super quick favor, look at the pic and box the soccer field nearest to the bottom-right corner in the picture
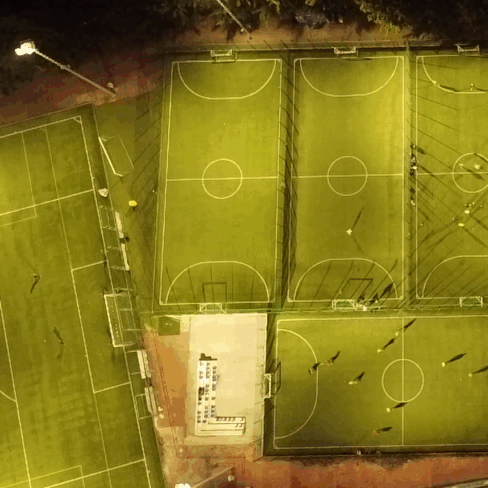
[264,309,488,455]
